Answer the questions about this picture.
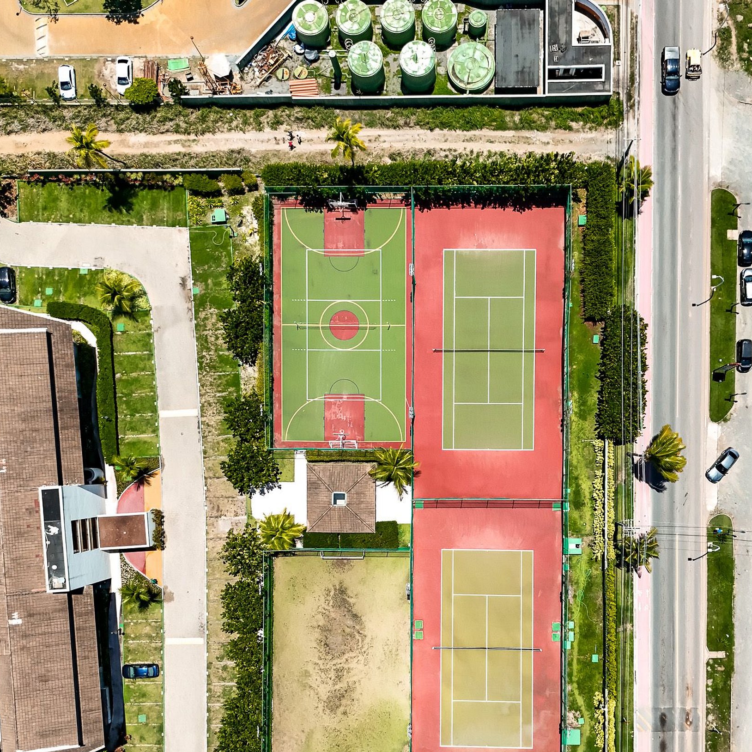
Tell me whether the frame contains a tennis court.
Yes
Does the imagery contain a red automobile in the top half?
No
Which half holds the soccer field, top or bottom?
bottom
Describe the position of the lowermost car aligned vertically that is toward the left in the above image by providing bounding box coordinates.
[0,266,16,304]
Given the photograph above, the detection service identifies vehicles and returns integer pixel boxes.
[739,269,752,306]
[687,47,703,81]
[662,46,681,96]
[115,56,133,96]
[707,446,737,483]
[59,63,78,102]
[0,266,16,304]
[738,230,752,267]
[122,662,160,681]
[736,338,752,373]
